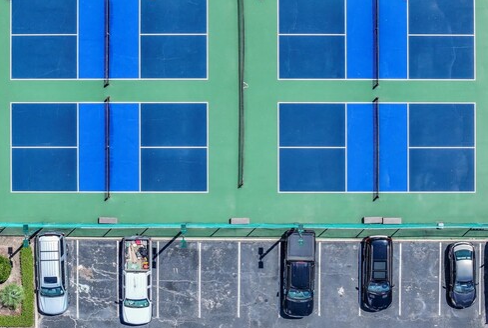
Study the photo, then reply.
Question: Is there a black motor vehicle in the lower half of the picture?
Yes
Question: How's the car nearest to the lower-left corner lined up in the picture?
from top to bottom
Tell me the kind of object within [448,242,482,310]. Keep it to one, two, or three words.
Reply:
car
